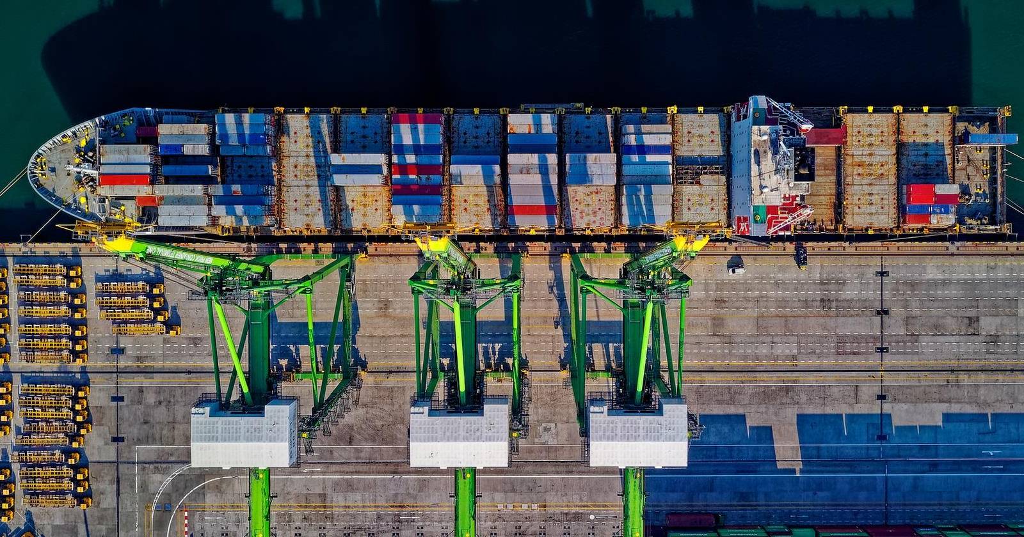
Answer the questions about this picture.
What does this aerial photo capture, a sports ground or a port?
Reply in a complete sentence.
What you see here is a port.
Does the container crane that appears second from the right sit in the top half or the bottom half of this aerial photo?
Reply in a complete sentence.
The container crane that appears second from the right is in the bottom half of the image.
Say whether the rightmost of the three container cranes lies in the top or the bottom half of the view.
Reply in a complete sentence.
Seen from above, the rightmost of the three container cranes lies in the bottom half of the view.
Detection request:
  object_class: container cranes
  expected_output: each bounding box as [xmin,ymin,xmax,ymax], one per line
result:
[50,217,368,537]
[558,216,751,537]
[380,216,535,537]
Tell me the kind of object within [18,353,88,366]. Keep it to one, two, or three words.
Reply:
vehicle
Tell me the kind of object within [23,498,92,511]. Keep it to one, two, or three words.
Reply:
vehicle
